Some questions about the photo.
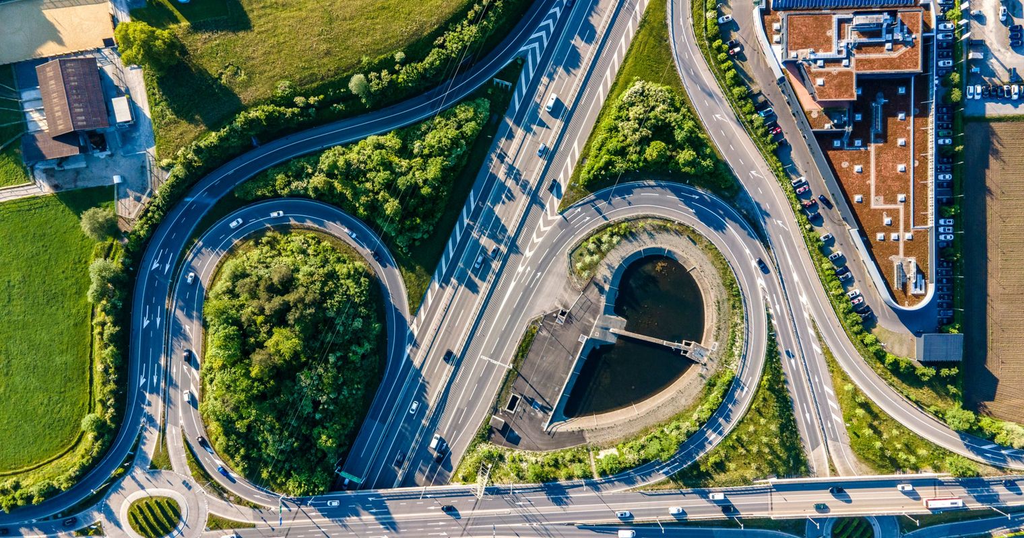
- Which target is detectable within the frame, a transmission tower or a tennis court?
transmission tower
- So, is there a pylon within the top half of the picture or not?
No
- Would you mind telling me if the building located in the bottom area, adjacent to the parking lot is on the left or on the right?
right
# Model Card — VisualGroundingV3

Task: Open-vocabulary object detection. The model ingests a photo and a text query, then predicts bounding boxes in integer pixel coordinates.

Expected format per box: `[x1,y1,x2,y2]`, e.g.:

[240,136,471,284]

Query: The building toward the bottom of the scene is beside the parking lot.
[916,332,964,362]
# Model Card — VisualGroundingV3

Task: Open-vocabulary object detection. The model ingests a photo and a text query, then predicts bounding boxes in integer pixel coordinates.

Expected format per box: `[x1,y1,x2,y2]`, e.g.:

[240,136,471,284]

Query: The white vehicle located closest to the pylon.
[429,432,441,450]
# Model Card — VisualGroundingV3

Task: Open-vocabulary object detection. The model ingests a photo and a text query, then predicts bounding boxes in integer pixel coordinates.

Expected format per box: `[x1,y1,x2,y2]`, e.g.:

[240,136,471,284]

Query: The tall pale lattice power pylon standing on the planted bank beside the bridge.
[469,455,496,500]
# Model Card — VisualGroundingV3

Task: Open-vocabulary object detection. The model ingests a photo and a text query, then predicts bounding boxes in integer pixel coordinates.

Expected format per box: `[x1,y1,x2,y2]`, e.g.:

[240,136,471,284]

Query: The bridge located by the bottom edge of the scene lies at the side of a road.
[255,474,1024,538]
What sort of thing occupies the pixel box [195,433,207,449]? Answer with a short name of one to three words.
vehicle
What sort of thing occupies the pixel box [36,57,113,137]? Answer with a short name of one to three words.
barn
